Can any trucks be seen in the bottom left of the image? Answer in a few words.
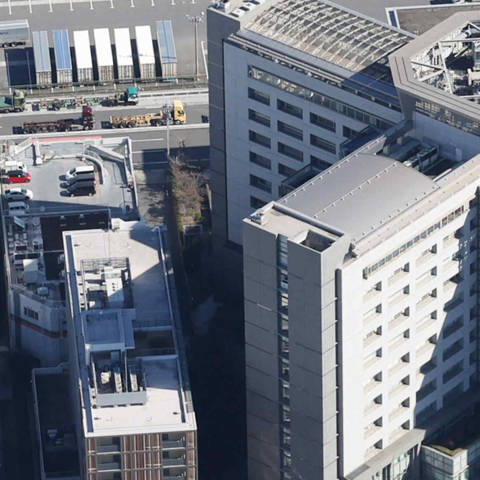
No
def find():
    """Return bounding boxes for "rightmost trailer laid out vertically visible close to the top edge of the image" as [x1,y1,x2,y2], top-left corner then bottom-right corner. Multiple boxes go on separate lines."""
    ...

[155,20,177,81]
